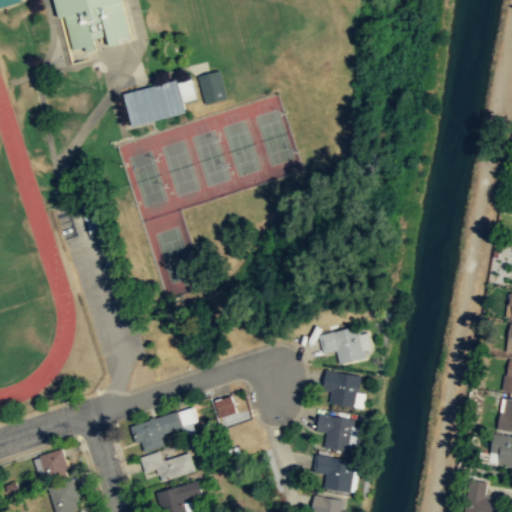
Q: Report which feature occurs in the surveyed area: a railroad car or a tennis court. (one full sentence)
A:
Looking from above, you can make out a tennis court.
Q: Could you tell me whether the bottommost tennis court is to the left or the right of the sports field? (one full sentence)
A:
The bottommost tennis court is to the right of the sports field.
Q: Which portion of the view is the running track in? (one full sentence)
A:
Look in the left portion of the view to spot the running track.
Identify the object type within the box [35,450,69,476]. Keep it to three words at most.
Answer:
house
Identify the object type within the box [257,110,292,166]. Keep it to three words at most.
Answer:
tennis court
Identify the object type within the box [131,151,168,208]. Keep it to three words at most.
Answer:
tennis court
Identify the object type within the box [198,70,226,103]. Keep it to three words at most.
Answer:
shed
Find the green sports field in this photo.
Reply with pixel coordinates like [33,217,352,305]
[0,131,58,386]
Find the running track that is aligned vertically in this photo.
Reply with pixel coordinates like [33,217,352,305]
[0,75,76,404]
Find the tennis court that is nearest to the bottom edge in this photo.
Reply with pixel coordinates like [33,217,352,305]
[158,228,192,284]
